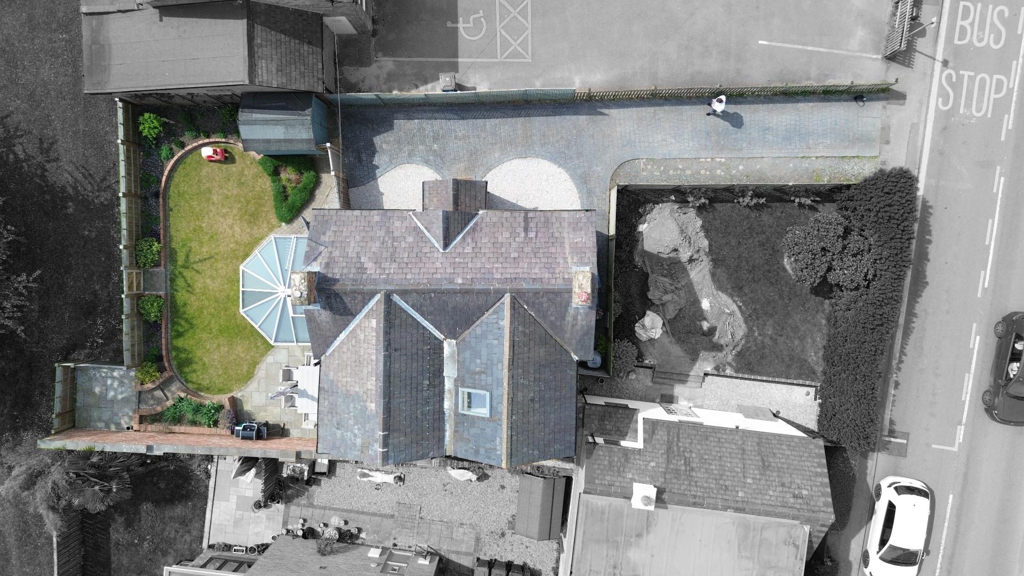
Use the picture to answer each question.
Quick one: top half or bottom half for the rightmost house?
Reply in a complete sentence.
The rightmost house sits in the bottom half of the picture.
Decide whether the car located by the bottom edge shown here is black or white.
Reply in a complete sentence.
From above, the car located by the bottom edge appears white.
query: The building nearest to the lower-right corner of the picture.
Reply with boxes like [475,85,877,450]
[555,392,834,576]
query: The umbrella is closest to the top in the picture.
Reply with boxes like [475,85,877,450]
[269,383,301,398]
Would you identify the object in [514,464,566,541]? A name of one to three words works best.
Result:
shed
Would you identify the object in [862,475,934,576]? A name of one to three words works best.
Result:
car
